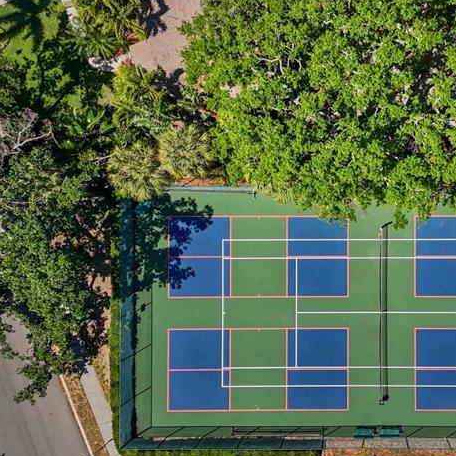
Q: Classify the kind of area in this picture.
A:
sports ground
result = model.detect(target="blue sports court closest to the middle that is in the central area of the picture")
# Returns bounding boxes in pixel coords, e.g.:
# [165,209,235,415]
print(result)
[168,215,350,298]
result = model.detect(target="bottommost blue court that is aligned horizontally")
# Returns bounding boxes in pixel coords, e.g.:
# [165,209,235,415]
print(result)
[168,328,349,411]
